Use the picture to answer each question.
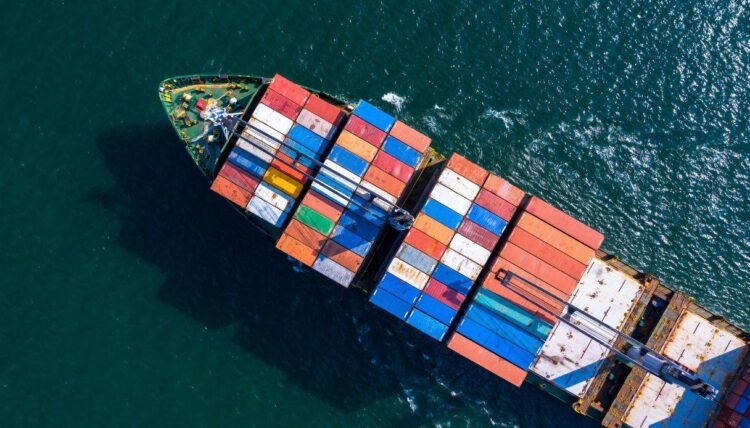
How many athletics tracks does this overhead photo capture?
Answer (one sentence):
No athletics tracks are visible.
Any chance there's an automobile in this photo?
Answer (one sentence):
No, I can see no automobile in this picture.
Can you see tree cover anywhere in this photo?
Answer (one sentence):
No, there is no tree cover in the image.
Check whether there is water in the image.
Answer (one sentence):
Yes, there's water in this view.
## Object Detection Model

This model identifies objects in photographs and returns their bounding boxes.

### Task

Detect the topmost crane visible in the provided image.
[207,110,415,234]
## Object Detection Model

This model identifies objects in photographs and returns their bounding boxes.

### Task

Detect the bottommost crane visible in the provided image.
[486,260,718,405]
